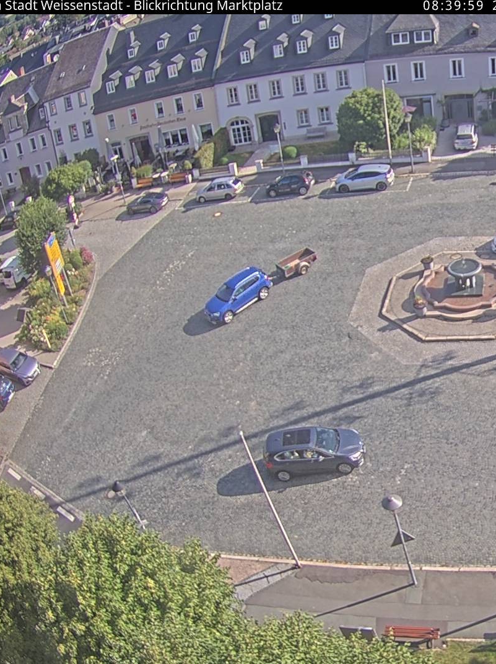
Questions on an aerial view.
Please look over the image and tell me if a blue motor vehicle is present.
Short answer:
Yes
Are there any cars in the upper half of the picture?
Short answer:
Yes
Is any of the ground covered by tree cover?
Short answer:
Yes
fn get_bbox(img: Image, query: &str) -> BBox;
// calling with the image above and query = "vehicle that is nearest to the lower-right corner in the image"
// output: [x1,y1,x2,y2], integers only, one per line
[258,424,367,483]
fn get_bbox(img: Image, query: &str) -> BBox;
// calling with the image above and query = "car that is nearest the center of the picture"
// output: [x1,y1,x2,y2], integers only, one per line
[200,266,273,326]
